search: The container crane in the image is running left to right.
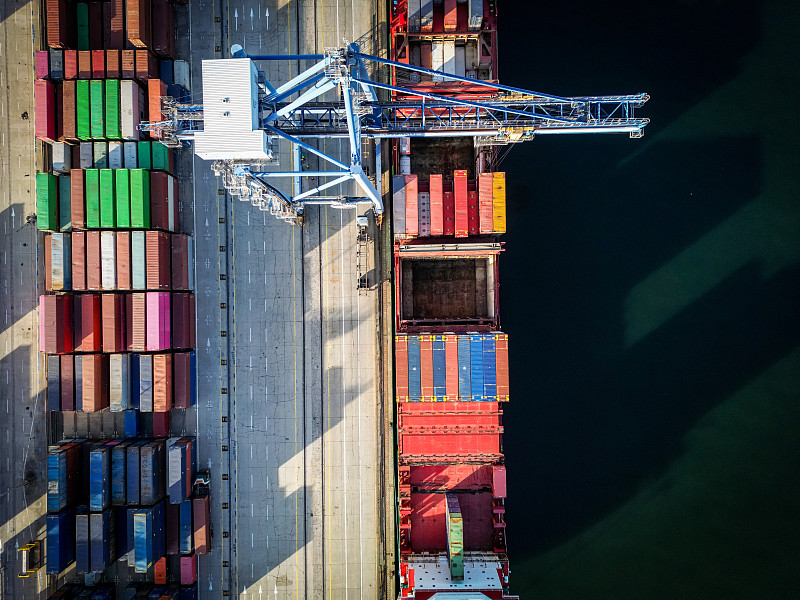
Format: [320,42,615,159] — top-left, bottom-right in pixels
[132,31,661,233]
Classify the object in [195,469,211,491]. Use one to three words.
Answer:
vehicle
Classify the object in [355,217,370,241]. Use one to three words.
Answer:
vehicle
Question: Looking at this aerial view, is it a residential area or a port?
port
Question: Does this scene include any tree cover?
No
